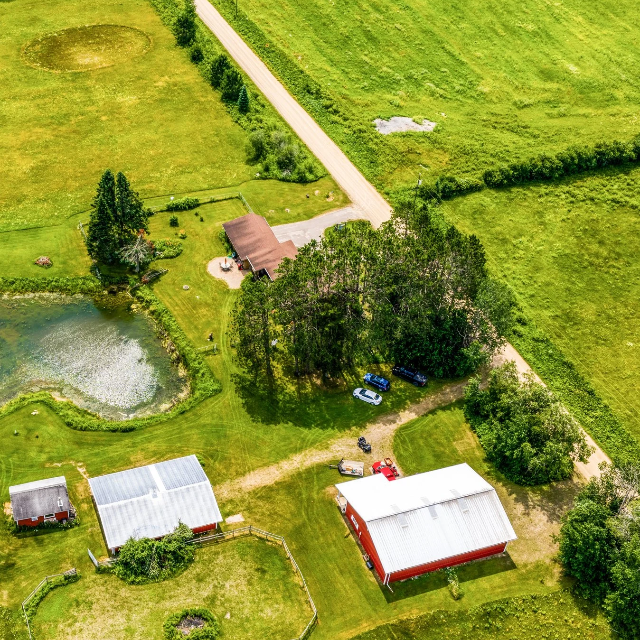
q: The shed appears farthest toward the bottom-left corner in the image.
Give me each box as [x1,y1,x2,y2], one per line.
[8,477,72,528]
